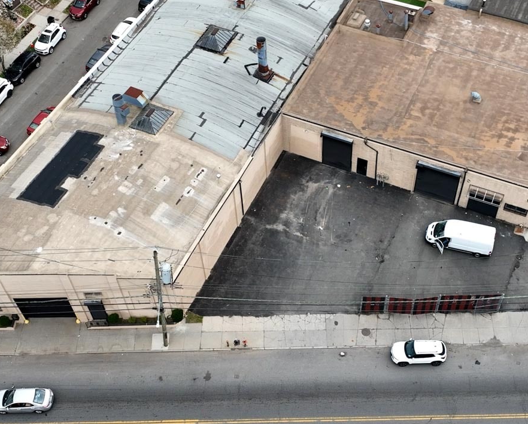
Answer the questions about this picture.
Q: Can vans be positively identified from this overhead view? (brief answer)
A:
Yes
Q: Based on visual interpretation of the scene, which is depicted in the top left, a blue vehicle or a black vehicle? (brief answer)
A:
black vehicle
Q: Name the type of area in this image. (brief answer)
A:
industrial area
